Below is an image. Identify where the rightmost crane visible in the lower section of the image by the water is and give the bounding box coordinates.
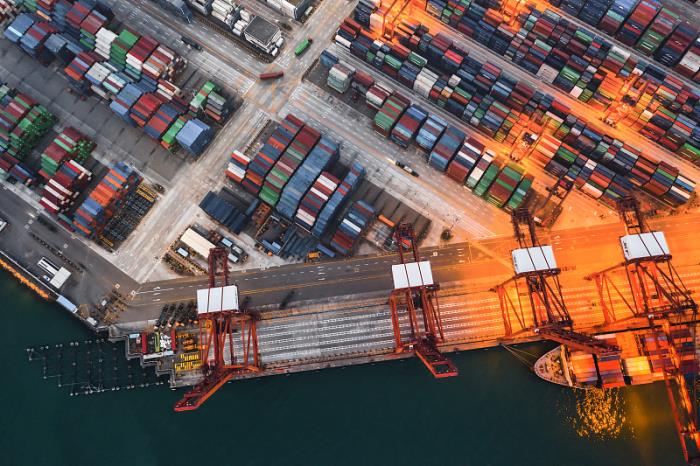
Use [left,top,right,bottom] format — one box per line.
[578,197,700,458]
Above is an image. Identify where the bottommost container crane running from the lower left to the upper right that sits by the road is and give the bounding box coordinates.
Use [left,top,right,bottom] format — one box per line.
[529,173,573,226]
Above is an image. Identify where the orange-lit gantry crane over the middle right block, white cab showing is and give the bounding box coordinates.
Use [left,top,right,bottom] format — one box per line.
[603,67,651,121]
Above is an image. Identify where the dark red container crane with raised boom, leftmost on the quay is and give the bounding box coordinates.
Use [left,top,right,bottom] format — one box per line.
[172,247,265,417]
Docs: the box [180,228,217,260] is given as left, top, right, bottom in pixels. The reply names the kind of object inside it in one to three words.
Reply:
shed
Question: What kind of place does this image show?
port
